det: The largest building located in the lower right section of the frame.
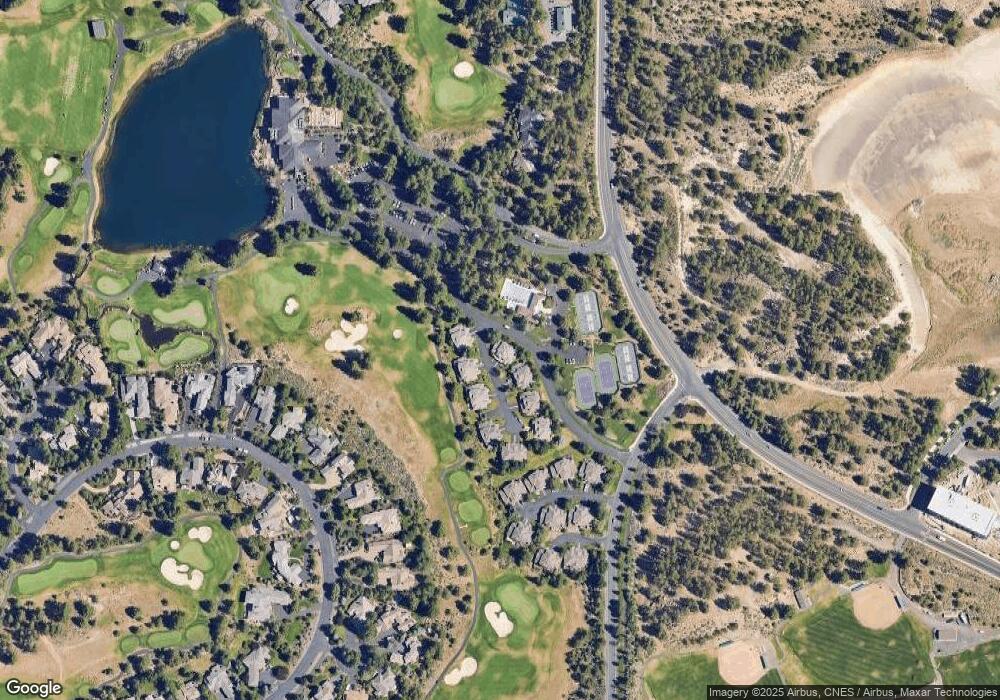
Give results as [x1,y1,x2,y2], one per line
[927,487,996,539]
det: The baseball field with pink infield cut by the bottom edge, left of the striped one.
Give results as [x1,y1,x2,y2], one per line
[642,638,802,700]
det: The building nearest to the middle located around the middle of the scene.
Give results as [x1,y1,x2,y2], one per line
[488,340,518,368]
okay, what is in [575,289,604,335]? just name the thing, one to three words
tennis court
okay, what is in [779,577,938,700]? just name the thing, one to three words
baseball field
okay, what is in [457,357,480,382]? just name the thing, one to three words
building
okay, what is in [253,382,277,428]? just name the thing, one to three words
house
